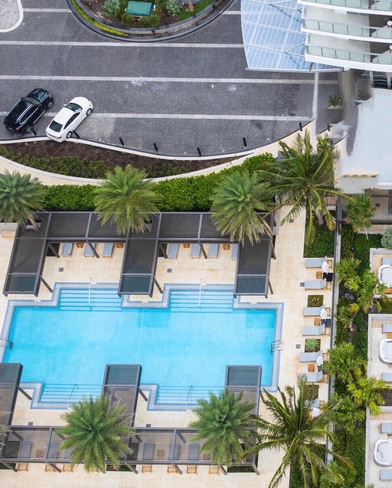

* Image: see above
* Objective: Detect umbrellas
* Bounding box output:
[315,356,326,373]
[323,263,332,282]
[321,308,330,327]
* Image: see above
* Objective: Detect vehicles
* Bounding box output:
[4,91,49,133]
[40,98,91,142]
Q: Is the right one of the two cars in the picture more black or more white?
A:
white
